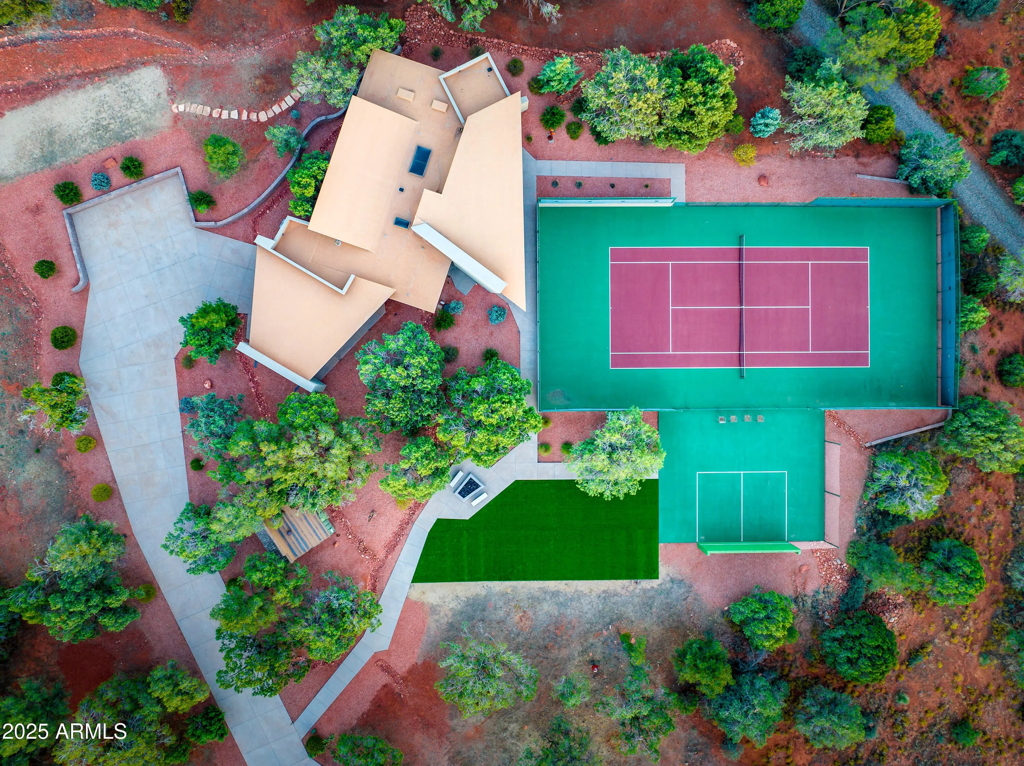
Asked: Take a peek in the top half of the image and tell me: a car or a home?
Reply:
home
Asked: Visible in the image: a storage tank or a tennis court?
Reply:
tennis court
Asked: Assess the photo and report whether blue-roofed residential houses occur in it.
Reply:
No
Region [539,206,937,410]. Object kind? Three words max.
tennis court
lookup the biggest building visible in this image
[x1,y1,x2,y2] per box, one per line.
[237,49,528,392]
